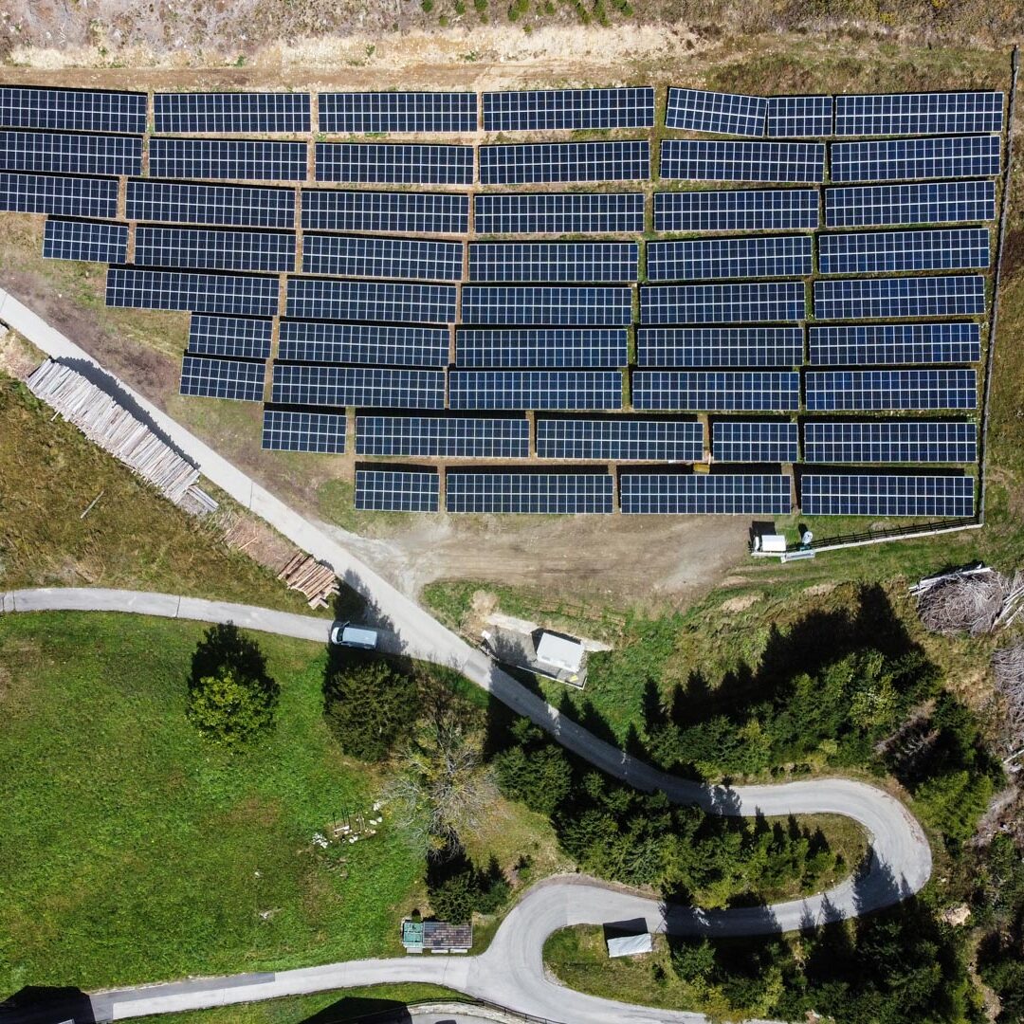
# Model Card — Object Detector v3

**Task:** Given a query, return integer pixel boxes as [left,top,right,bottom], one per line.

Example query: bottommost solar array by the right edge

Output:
[801,476,975,516]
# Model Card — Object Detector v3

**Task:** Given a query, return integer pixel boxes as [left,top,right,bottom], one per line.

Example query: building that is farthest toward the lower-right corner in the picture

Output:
[607,932,651,957]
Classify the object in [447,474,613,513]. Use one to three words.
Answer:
solar array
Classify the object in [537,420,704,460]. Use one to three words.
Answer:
solar array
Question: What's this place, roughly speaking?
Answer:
solar farm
